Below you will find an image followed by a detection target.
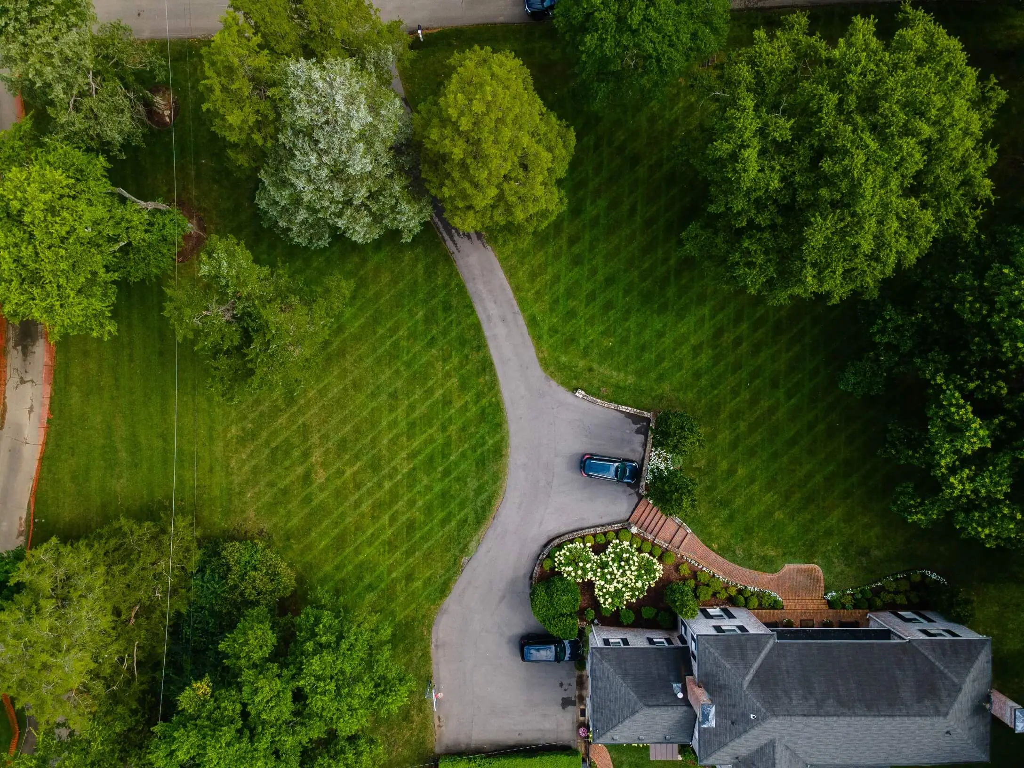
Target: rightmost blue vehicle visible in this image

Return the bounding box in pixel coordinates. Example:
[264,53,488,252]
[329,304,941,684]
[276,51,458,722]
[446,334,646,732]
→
[580,454,640,482]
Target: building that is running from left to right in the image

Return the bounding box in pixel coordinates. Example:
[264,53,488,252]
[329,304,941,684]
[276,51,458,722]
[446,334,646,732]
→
[586,609,1024,768]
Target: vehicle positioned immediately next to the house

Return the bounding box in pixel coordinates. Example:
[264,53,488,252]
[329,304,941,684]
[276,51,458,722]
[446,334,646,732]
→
[520,635,580,666]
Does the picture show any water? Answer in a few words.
No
